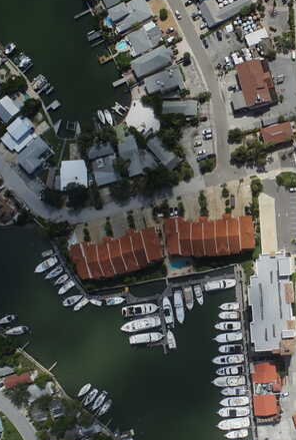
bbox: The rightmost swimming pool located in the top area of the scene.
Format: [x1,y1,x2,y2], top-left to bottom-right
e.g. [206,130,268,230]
[114,38,129,52]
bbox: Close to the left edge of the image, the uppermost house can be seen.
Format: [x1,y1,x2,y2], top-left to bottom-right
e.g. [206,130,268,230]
[0,95,21,122]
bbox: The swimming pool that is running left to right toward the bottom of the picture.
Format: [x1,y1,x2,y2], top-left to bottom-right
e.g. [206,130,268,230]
[168,259,193,271]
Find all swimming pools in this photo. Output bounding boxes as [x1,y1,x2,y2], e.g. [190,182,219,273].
[103,13,114,28]
[168,259,193,271]
[114,38,129,52]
